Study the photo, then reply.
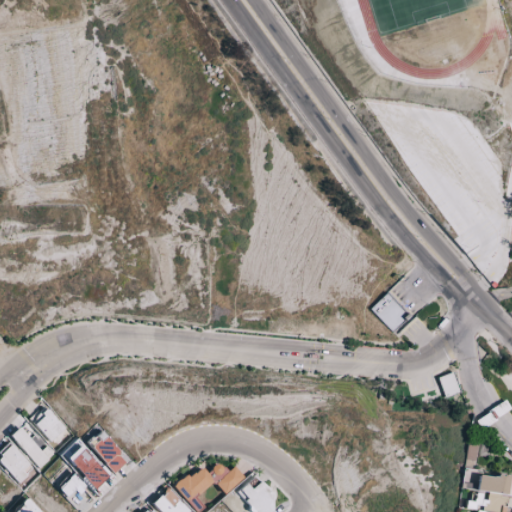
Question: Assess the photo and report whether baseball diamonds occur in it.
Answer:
No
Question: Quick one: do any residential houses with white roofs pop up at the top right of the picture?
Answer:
No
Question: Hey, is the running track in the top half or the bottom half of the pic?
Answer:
top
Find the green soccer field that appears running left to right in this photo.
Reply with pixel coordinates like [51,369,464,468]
[368,0,480,38]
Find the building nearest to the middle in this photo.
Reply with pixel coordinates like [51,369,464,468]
[372,293,406,332]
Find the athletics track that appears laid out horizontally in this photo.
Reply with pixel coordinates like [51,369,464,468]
[359,0,496,78]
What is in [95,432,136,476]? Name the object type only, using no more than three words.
house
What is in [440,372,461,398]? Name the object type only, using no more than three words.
building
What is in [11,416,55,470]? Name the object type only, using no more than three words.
house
